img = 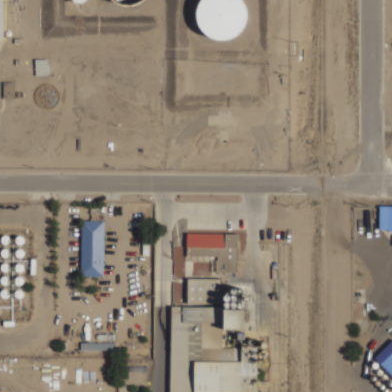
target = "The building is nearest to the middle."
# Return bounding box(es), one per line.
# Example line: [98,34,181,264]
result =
[186,234,237,274]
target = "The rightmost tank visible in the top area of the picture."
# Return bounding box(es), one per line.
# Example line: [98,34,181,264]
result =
[196,0,248,42]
